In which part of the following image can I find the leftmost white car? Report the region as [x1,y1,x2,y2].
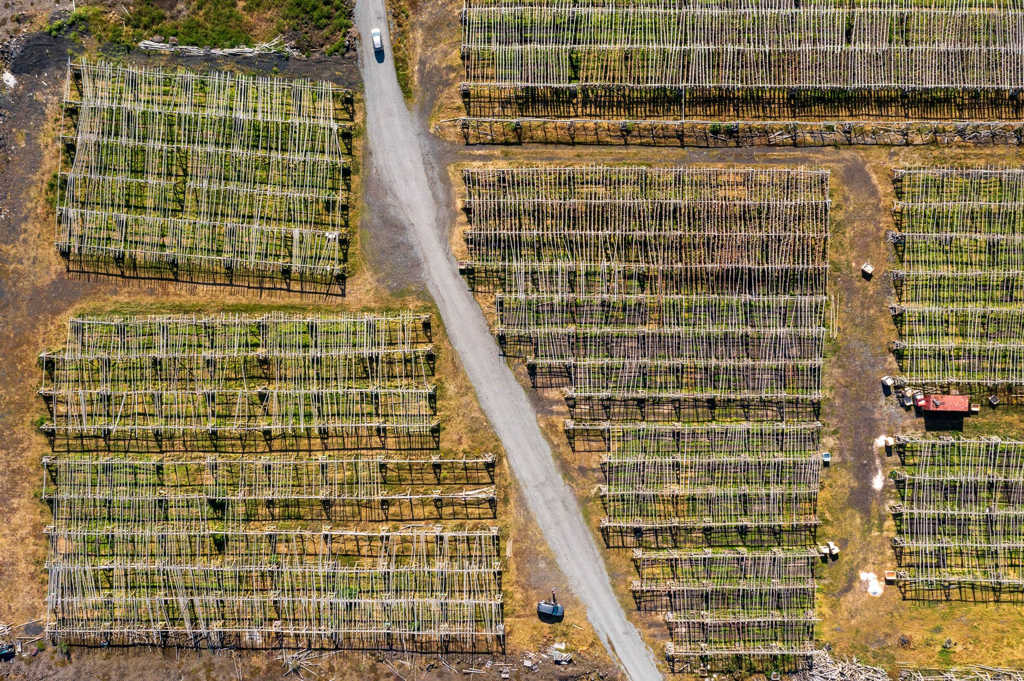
[370,29,384,53]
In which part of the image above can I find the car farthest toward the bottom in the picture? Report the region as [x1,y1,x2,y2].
[536,598,564,617]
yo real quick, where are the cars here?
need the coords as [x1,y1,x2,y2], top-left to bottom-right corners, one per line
[536,598,564,617]
[370,29,384,53]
